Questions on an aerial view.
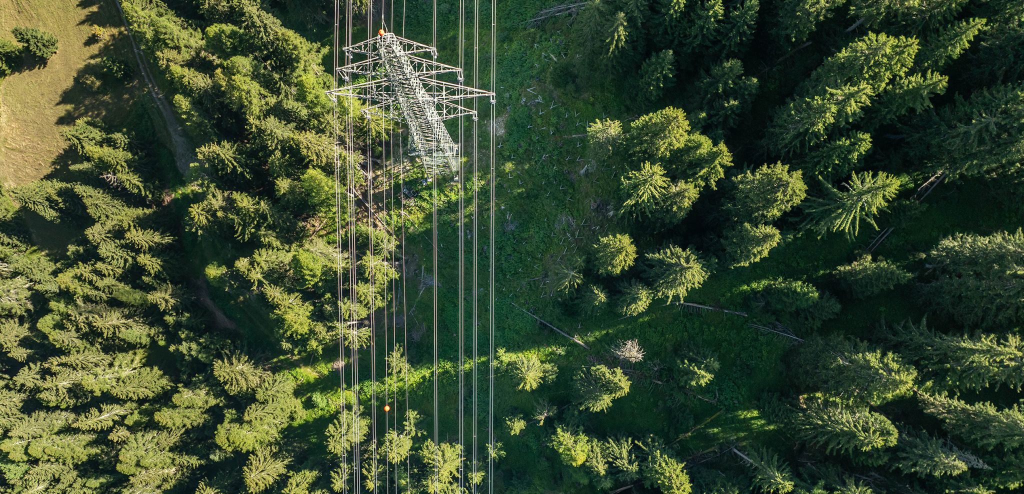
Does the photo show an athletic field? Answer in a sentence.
No, the photo shows no athletic field.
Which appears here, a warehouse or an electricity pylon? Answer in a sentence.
Visible in the photo is an electricity pylon.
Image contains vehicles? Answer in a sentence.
No, the picture doesn't show any vehicle.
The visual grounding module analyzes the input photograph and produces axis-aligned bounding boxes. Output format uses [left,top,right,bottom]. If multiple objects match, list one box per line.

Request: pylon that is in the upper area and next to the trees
[325,15,500,183]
